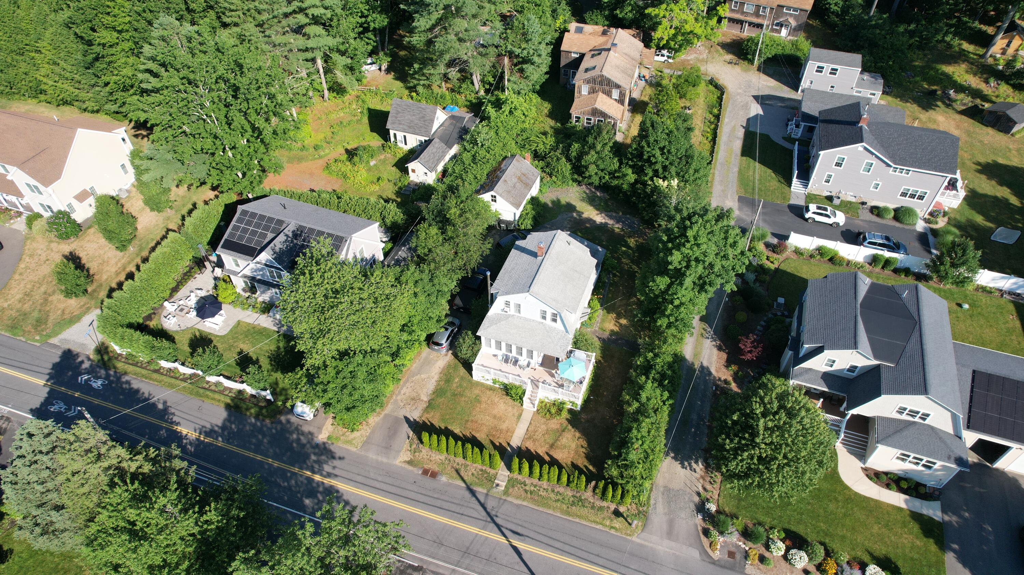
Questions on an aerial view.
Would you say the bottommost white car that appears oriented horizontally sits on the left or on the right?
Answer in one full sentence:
The bottommost white car that appears oriented horizontally is on the right side of the image.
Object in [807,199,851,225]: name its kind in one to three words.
car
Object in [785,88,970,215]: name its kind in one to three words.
house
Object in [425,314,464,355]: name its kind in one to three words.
car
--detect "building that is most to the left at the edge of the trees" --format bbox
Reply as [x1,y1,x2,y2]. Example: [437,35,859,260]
[0,104,145,226]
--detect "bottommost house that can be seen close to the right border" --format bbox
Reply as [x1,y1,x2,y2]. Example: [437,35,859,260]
[773,271,1024,488]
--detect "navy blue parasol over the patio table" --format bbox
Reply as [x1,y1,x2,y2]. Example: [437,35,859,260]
[194,298,224,325]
